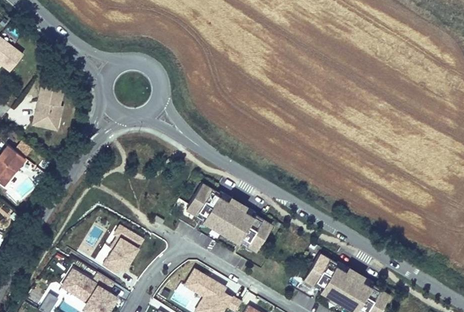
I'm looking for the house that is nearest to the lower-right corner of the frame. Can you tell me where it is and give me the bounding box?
[304,254,392,312]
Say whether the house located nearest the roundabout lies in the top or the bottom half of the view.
top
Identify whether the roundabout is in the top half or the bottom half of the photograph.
top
